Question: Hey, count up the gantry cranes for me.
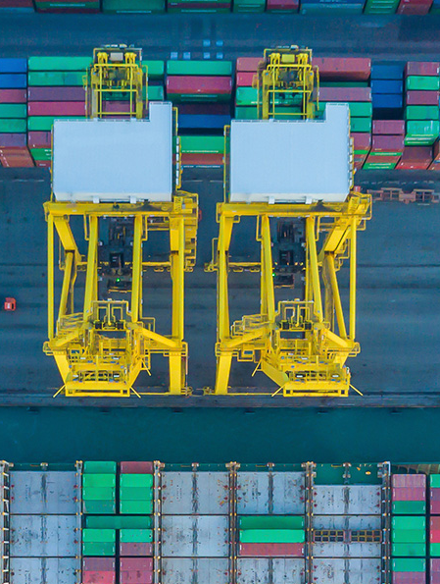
2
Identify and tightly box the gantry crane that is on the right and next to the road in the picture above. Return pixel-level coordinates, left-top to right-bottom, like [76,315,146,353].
[195,47,376,400]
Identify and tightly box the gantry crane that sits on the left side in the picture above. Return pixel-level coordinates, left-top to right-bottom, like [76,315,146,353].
[39,46,207,399]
